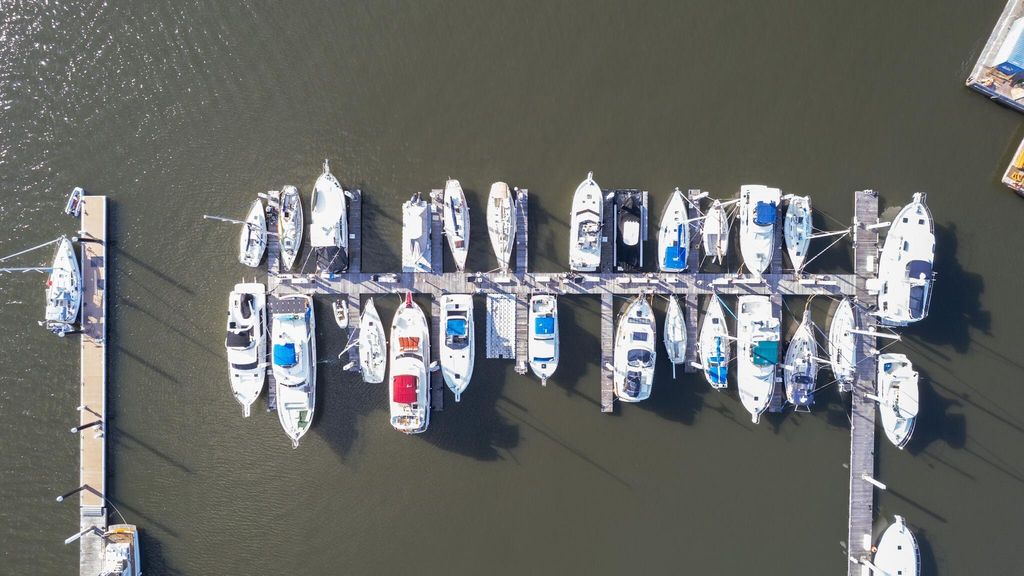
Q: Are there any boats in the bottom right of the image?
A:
Yes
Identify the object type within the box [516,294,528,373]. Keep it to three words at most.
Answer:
pier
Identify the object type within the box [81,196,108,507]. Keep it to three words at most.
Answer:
pier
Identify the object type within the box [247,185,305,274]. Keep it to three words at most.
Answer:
boat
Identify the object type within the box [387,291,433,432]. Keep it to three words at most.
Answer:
boat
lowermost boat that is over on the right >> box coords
[869,512,921,576]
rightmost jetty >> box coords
[847,191,878,576]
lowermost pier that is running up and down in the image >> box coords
[80,506,108,576]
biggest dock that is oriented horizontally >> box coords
[268,273,854,294]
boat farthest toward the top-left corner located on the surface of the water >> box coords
[66,187,83,217]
